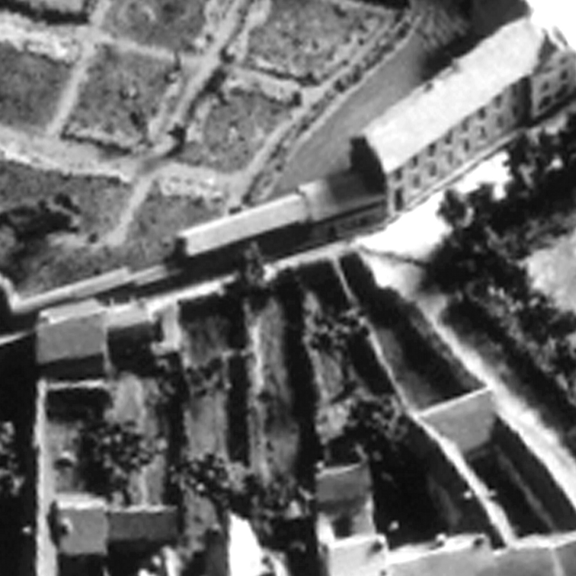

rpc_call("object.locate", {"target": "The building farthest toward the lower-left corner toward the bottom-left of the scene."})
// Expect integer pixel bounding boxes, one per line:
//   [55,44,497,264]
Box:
[55,498,111,576]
